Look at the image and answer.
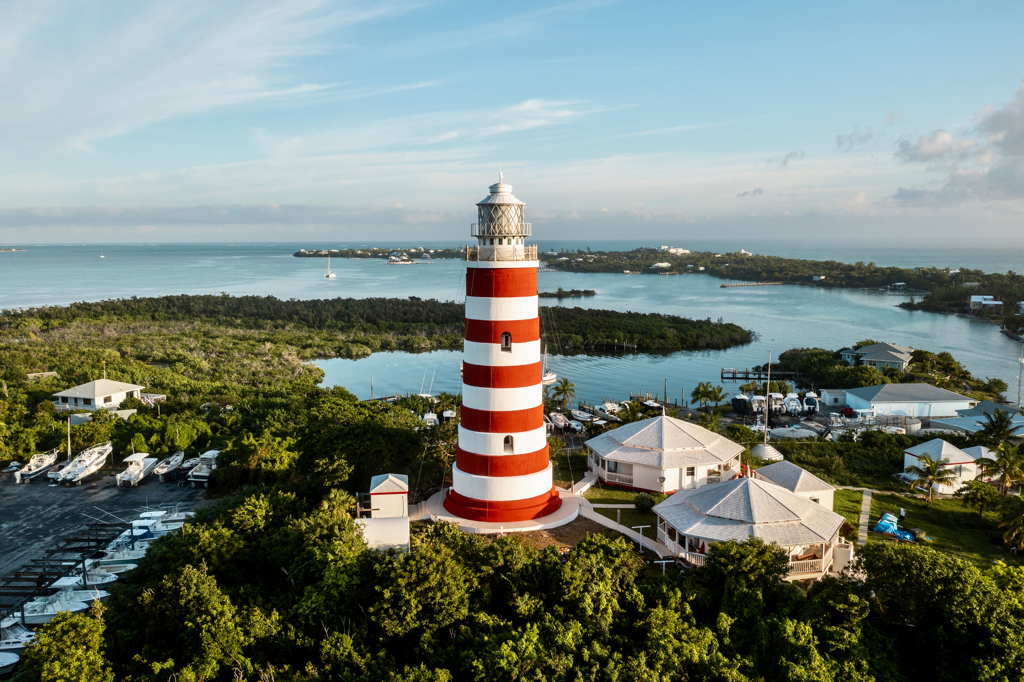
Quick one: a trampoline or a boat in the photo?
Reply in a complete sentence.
This aerial view contains a boat.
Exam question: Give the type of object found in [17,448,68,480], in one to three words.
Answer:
boat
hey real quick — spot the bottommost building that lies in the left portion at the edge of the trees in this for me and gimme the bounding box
[371,471,414,522]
